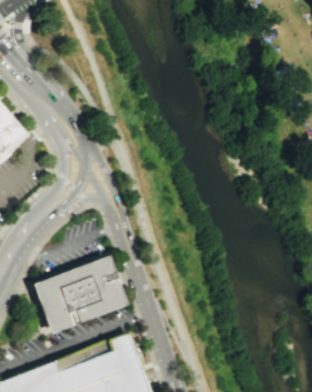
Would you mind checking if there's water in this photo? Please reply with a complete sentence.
Yes, water shows up in the scene.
